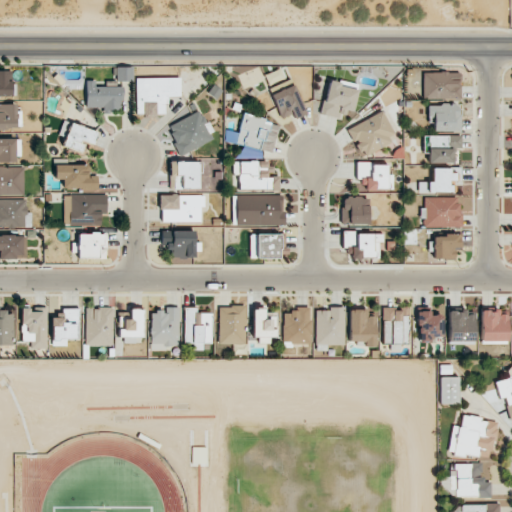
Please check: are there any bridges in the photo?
No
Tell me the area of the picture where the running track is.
bottom left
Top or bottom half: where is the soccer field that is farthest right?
bottom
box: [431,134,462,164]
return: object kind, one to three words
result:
house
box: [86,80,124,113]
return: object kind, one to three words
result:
house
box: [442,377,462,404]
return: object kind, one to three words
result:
shed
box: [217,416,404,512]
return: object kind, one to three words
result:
soccer field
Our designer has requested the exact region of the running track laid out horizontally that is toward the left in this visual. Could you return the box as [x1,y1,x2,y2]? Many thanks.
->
[22,437,184,512]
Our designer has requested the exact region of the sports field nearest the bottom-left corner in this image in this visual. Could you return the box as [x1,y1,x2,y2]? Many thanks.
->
[43,456,164,512]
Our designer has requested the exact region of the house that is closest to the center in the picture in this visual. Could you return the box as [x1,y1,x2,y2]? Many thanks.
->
[250,233,284,260]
